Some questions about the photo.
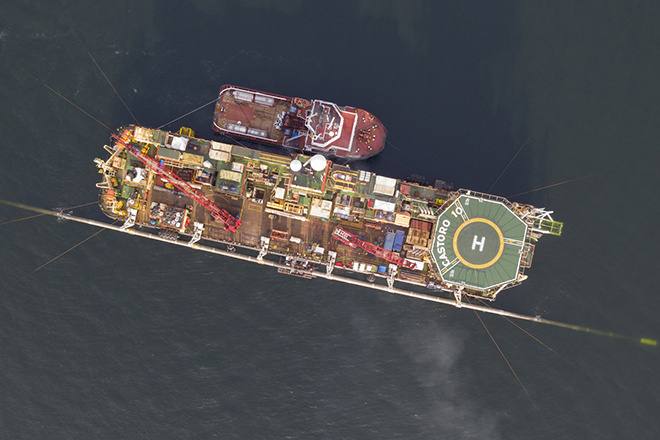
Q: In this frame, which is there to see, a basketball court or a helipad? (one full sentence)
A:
I can see a helipad in this picture.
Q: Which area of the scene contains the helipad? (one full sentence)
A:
The helipad sits in the right section of the image.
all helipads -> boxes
[425,186,535,297]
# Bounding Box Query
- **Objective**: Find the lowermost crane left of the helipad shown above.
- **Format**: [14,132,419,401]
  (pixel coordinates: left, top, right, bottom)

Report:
[331,227,418,271]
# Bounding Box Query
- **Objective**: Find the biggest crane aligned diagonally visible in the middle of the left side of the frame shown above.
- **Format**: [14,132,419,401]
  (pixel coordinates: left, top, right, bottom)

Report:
[112,132,247,231]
